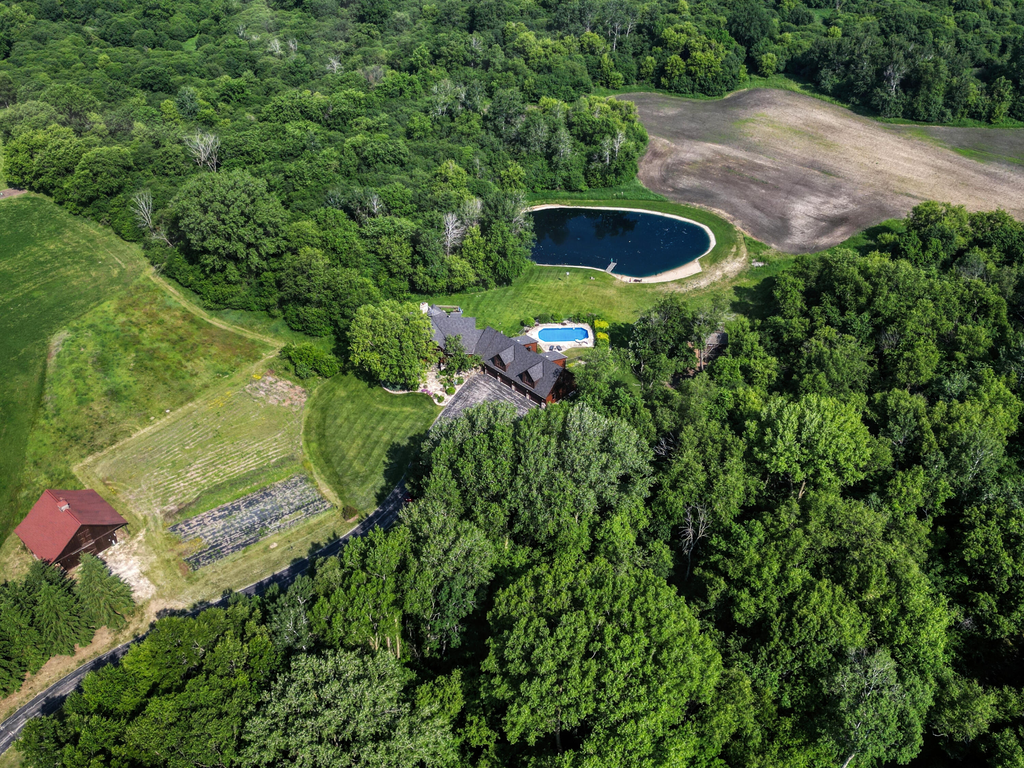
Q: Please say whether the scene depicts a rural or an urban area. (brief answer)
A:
rural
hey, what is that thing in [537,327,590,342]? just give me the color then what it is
blue swimming pool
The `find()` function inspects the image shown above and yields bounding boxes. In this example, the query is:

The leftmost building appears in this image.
[16,490,127,568]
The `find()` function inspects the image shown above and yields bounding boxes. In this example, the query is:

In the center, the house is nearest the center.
[419,293,577,410]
